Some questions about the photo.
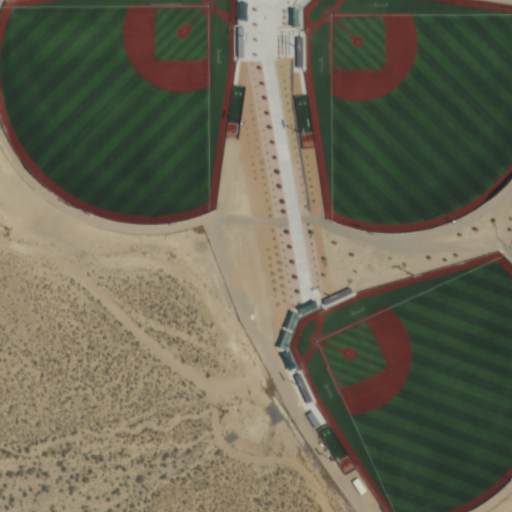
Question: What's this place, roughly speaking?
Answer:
sports ground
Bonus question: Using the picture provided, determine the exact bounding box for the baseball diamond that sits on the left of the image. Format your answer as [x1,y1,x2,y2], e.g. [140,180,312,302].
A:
[0,0,236,224]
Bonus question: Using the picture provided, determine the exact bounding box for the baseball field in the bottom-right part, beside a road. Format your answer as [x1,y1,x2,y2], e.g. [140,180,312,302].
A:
[290,248,512,512]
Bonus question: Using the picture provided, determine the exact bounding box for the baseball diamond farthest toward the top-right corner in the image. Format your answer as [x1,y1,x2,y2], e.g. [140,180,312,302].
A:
[304,0,512,233]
